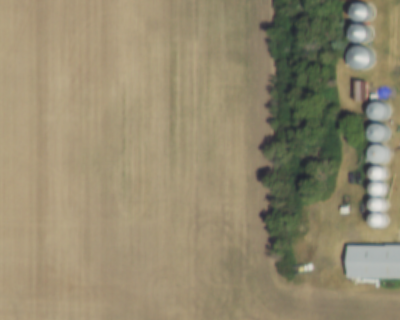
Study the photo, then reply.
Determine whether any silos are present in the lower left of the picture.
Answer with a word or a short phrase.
No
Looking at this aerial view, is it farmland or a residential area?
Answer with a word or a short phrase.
farmland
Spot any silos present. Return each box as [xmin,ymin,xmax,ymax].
[347,24,374,44]
[366,100,392,122]
[366,143,392,164]
[367,182,389,198]
[346,44,376,72]
[349,2,376,22]
[366,122,392,144]
[367,197,389,213]
[378,85,394,99]
[367,166,389,182]
[367,212,389,228]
